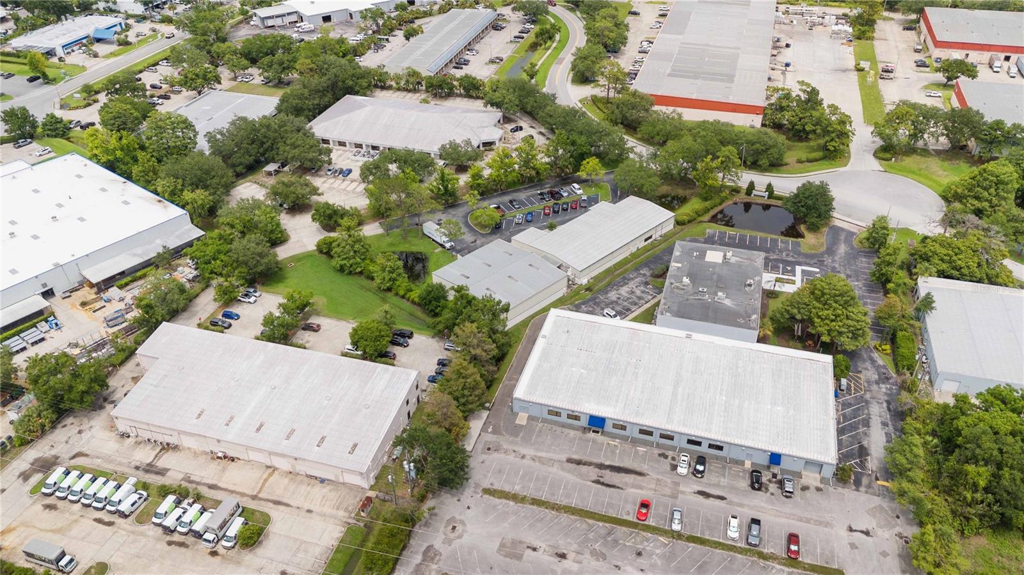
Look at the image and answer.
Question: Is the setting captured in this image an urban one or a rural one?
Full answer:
From above, the setting appears urban.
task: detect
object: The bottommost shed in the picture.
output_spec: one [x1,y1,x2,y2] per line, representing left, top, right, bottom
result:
[351,492,374,521]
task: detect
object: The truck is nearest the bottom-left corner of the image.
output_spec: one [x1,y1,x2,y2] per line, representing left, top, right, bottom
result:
[23,536,73,571]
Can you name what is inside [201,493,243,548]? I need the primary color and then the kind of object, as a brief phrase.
white truck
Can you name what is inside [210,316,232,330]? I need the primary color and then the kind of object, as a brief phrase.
gray car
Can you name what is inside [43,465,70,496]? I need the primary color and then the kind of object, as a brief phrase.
white vehicle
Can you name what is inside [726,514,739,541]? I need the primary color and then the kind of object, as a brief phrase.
white vehicle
